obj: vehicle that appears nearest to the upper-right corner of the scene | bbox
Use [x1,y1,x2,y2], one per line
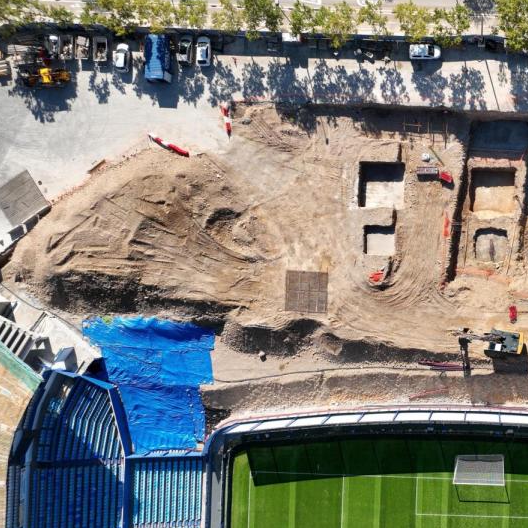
[409,43,442,60]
